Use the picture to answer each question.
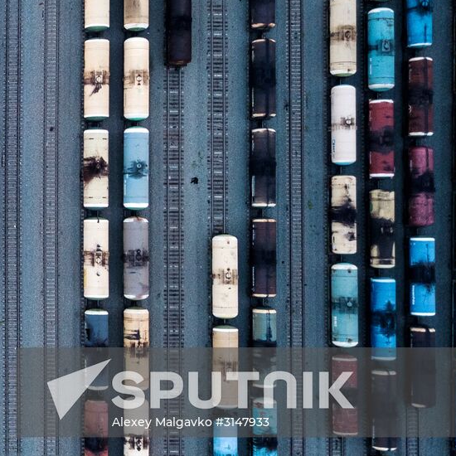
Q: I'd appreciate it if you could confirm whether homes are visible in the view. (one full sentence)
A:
No, I can see no home in this picture.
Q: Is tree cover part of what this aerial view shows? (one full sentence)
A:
No, there's no tree cover in this view.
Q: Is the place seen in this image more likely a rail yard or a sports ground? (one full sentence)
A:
The picture captures a rail yard.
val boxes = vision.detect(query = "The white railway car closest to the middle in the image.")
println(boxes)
[209,230,238,321]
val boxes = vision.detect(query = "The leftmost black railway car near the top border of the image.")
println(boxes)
[166,0,191,71]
